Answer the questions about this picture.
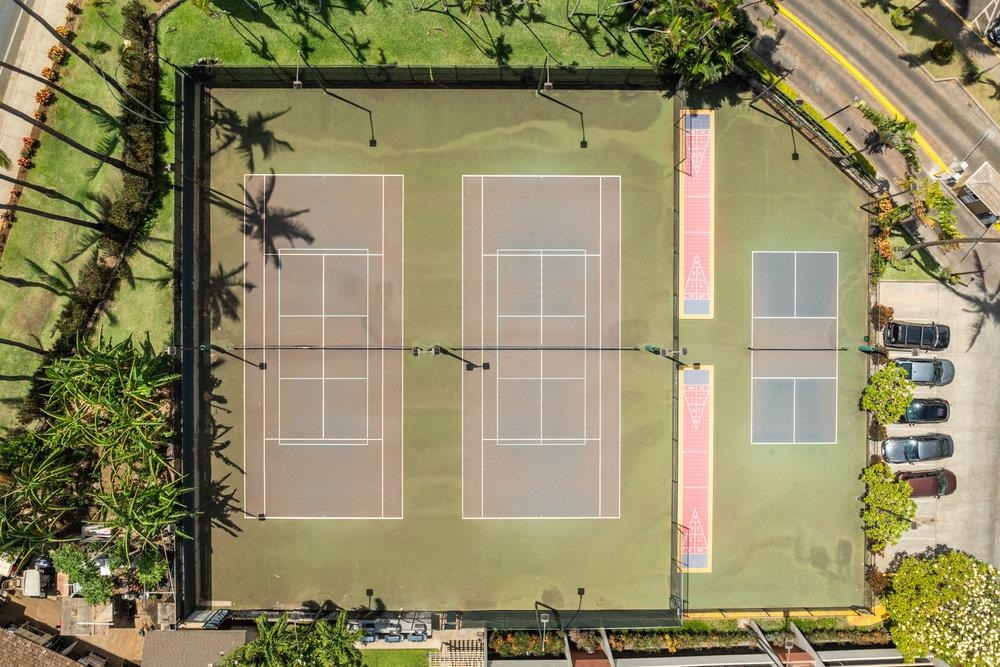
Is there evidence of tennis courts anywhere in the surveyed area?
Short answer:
Yes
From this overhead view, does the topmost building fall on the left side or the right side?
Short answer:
right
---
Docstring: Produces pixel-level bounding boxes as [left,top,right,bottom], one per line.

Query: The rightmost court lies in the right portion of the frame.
[752,251,839,445]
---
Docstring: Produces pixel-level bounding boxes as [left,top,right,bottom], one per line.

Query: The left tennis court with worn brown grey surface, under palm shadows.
[243,175,403,520]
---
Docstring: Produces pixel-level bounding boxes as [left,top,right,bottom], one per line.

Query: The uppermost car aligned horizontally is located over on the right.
[881,318,953,354]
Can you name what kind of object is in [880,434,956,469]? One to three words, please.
car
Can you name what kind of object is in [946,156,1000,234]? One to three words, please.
building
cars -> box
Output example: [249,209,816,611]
[891,355,957,389]
[892,397,953,429]
[891,468,961,502]
[881,318,953,354]
[880,434,956,469]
